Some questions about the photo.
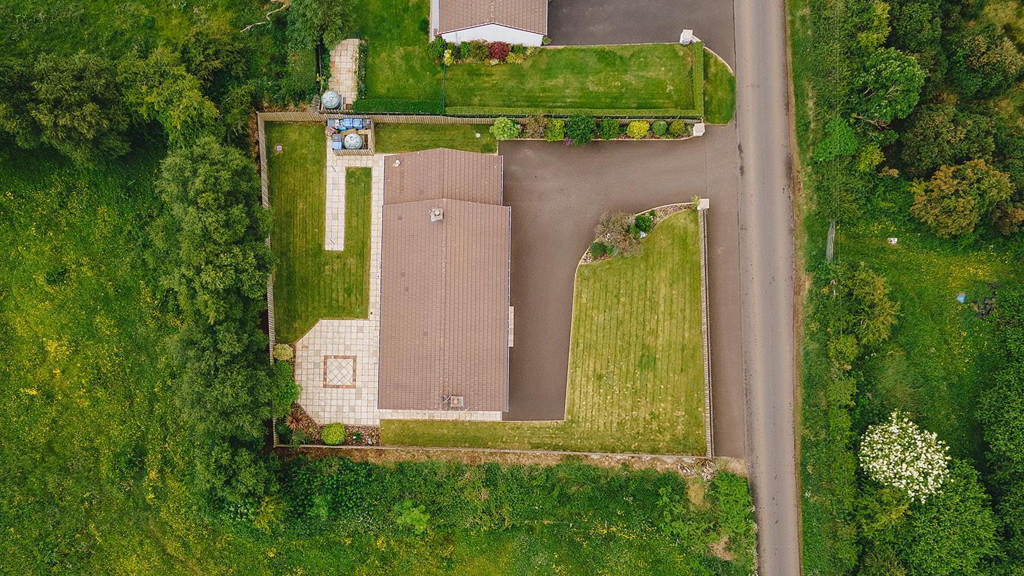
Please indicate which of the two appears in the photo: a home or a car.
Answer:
home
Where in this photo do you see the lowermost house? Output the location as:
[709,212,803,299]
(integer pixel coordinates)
[377,149,515,411]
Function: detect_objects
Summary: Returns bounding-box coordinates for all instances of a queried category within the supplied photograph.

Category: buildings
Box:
[377,149,515,411]
[433,0,550,49]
